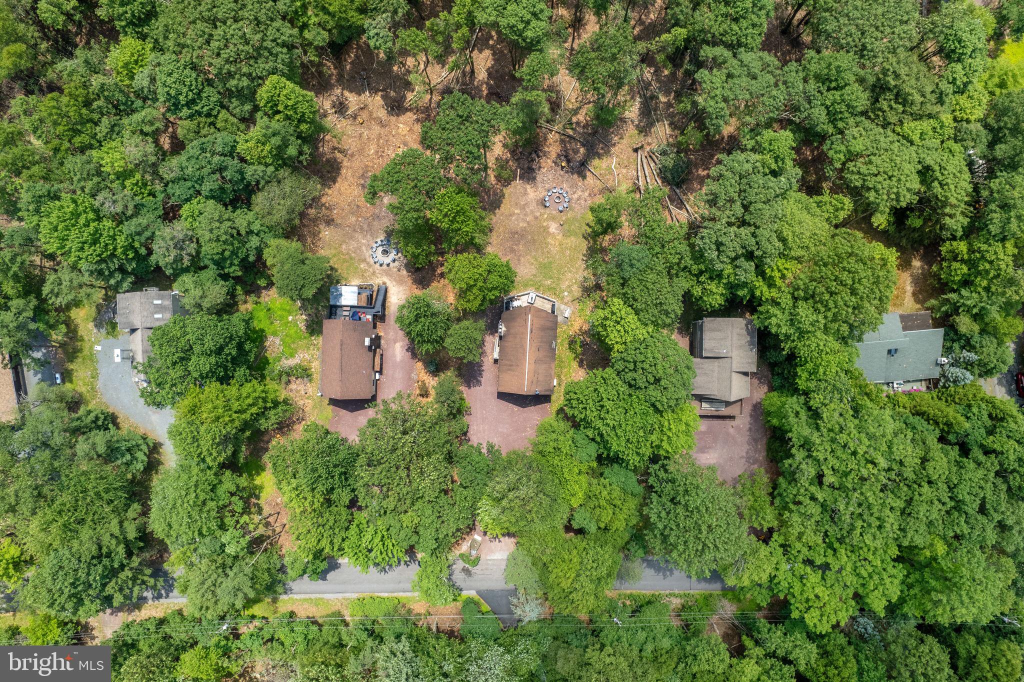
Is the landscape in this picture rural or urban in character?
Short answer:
rural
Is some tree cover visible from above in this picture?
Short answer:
Yes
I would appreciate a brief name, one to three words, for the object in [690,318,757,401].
house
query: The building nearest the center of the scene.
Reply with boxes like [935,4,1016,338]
[497,304,558,396]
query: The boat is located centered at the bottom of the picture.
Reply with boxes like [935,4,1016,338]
[469,534,485,557]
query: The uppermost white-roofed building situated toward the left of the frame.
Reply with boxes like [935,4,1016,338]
[330,286,360,304]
